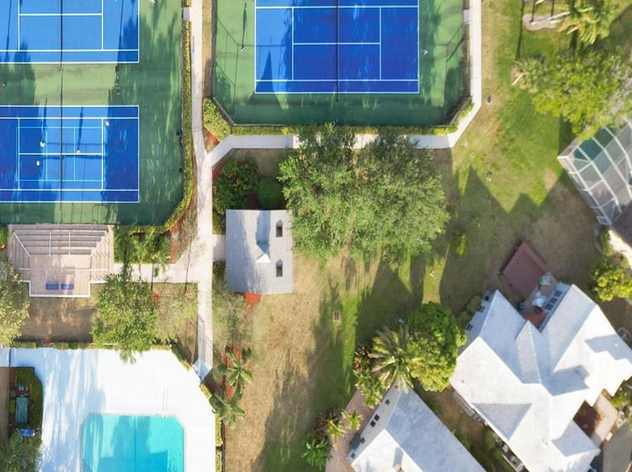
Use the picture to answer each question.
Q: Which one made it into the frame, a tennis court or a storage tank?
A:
tennis court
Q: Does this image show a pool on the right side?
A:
Yes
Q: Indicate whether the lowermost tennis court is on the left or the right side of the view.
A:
left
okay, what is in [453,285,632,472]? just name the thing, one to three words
house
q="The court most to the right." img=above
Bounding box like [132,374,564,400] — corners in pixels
[213,0,466,124]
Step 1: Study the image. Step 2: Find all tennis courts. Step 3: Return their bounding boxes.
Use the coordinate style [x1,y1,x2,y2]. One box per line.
[0,84,183,224]
[213,0,466,124]
[0,0,183,84]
